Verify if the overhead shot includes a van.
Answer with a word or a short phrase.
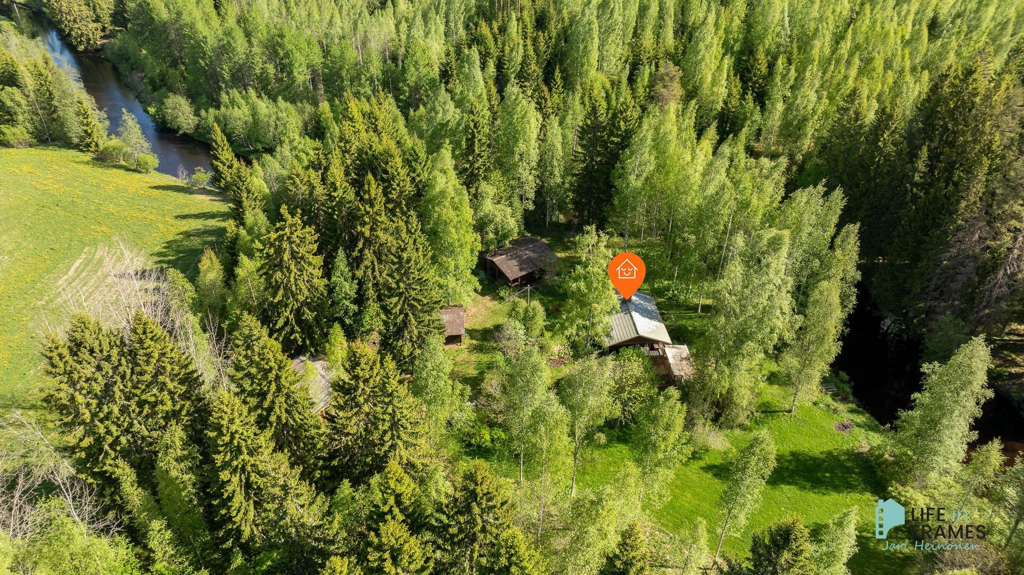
No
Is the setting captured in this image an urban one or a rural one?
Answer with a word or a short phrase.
rural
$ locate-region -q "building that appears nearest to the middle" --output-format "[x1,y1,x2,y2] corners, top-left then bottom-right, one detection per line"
[480,234,557,293]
